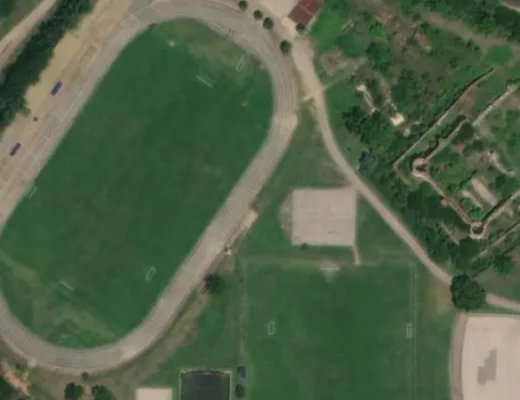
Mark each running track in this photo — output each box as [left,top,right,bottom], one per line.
[0,0,297,373]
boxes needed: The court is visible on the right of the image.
[292,188,355,246]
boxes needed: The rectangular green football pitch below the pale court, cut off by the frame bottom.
[244,261,414,400]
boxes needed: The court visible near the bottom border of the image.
[182,372,230,400]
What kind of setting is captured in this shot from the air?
sports ground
